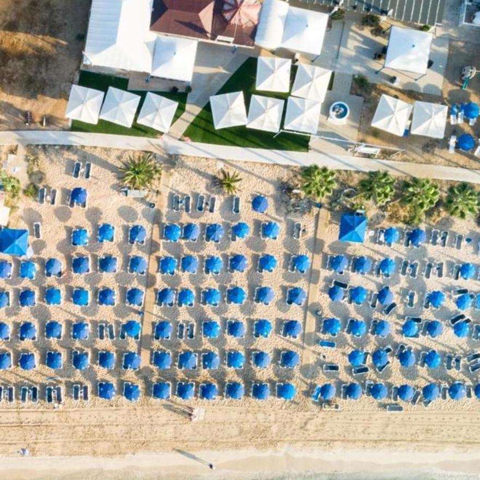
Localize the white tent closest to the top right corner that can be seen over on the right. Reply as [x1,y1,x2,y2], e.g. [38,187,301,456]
[373,26,433,82]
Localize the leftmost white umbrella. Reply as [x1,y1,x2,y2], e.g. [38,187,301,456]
[66,85,104,125]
